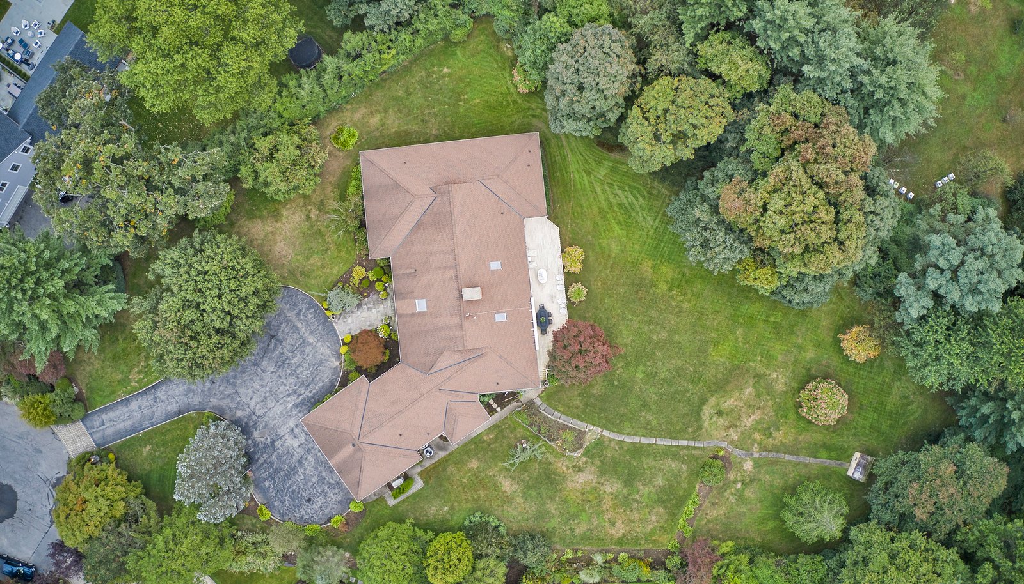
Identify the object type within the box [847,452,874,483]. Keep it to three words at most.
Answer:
shed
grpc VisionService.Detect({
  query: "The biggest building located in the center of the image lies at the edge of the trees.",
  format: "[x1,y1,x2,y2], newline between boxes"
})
[299,131,548,503]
